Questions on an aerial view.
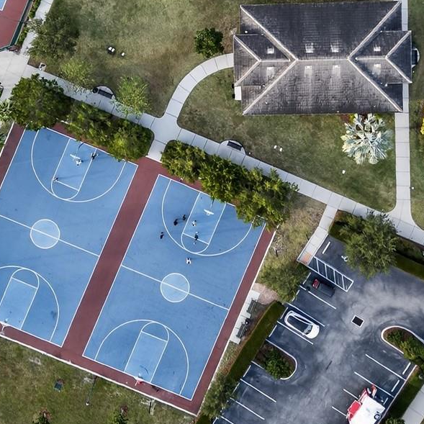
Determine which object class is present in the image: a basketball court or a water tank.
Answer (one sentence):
Of the two, only a basketball court appears.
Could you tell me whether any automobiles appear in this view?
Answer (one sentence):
Yes, an automobile appears in the view.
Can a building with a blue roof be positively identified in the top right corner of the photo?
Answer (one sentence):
No, no building with a blue roof is visible in the top right corner of the photo.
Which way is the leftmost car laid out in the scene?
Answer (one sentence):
The leftmost car runs diagonally in the image.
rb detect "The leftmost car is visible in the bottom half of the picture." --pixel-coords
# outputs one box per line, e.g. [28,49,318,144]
[282,309,318,337]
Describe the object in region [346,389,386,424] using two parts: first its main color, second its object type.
white trailer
